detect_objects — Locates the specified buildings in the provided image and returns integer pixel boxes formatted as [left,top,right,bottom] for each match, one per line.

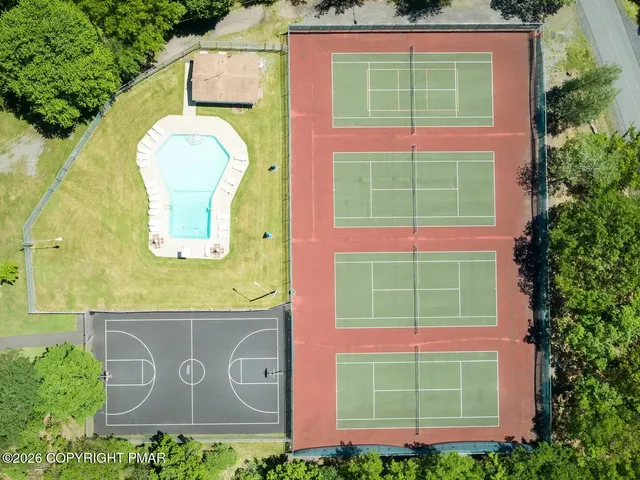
[191,52,258,105]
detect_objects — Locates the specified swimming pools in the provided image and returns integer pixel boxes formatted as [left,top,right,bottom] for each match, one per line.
[137,115,249,258]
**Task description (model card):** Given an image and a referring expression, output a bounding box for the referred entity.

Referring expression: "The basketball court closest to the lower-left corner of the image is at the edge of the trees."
[92,306,292,436]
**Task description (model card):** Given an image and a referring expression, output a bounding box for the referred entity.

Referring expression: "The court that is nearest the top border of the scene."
[332,52,494,128]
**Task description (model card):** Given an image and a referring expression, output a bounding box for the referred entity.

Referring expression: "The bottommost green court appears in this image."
[336,351,499,429]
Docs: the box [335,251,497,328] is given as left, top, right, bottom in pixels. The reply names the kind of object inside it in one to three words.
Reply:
tennis court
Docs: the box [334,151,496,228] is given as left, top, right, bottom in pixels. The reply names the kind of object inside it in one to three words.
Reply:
tennis court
